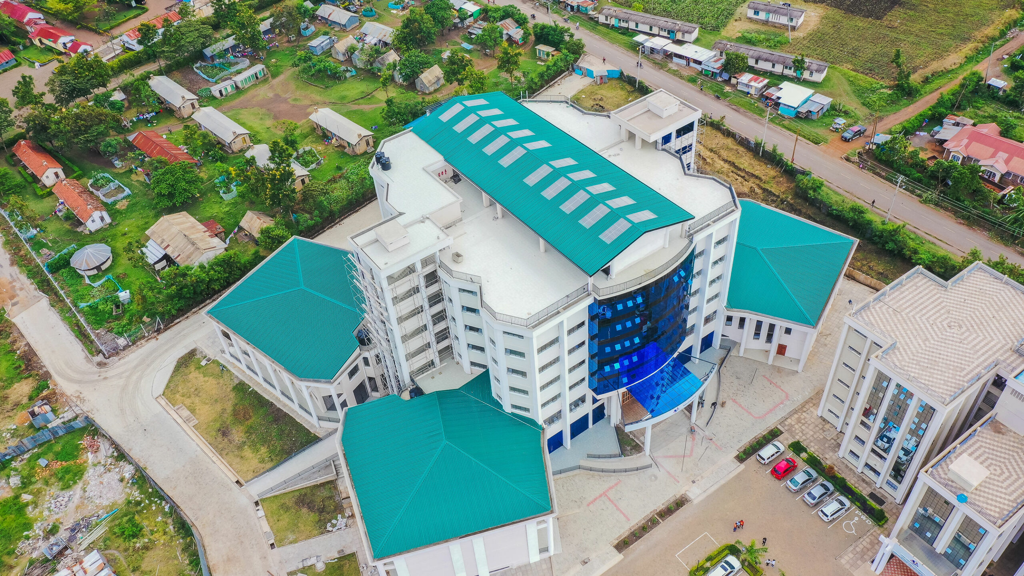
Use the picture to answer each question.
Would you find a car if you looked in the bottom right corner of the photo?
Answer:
Yes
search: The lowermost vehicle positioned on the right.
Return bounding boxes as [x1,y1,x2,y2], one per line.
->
[699,552,741,576]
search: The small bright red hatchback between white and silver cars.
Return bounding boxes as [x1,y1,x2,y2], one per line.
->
[772,454,804,480]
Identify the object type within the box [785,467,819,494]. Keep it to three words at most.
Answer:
car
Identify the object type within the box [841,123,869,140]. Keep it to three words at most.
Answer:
vehicle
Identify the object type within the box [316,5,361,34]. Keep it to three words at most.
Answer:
house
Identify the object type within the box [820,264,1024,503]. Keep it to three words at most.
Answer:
building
